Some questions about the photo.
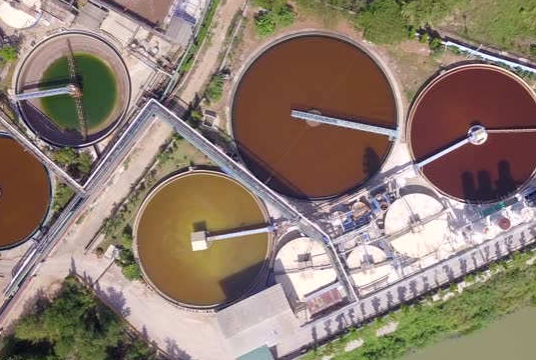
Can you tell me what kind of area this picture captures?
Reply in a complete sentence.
What you see here is an industrial area.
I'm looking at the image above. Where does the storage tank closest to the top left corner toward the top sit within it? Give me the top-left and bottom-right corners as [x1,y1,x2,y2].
[0,0,48,33]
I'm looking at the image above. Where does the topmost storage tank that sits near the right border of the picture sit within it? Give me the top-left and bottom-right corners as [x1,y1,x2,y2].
[405,63,536,204]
